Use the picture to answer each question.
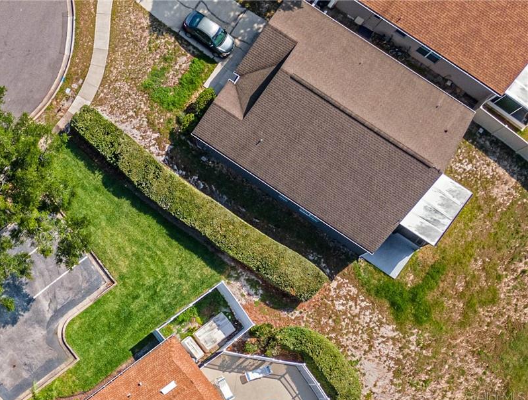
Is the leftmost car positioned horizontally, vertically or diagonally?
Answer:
diagonally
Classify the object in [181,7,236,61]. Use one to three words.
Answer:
car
